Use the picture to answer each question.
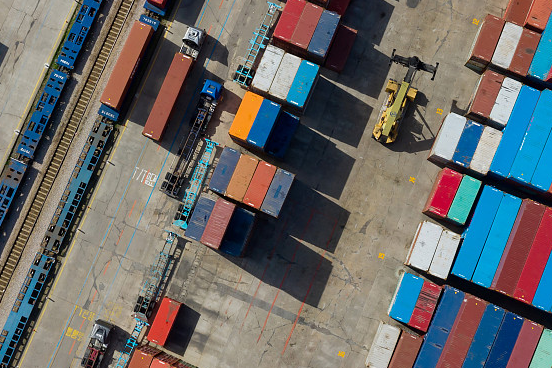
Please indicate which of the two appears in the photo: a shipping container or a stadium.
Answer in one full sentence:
This aerial view contains a shipping container.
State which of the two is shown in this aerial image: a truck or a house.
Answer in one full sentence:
The image shows a truck.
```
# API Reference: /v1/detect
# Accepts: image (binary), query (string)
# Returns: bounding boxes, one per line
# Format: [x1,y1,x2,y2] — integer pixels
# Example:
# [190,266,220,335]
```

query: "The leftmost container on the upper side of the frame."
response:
[102,21,157,111]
